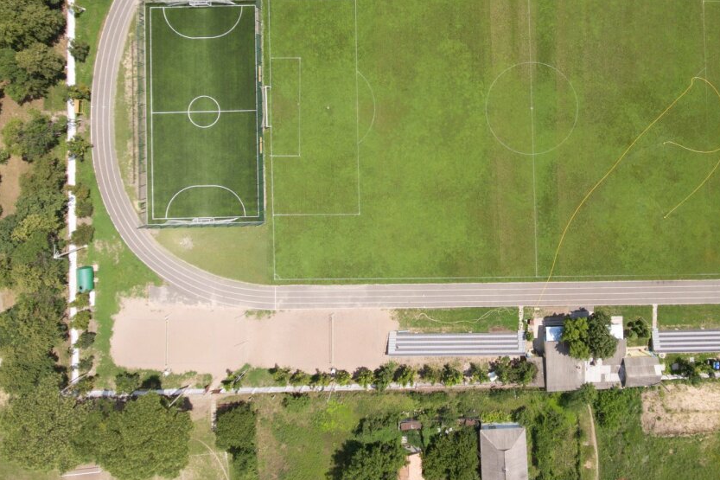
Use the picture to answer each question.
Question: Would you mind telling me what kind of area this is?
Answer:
sports ground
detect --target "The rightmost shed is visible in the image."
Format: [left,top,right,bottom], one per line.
[623,352,662,387]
